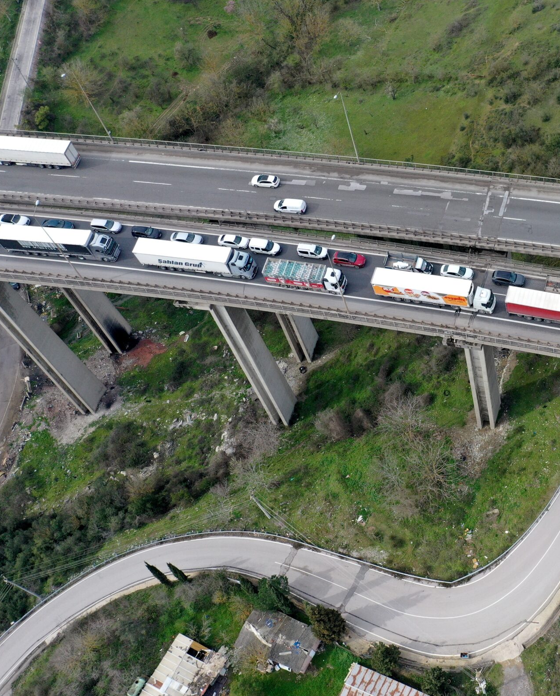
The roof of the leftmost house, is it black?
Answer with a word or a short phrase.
No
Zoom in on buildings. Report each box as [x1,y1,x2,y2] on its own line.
[230,611,322,677]
[333,662,418,696]
[134,635,216,696]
